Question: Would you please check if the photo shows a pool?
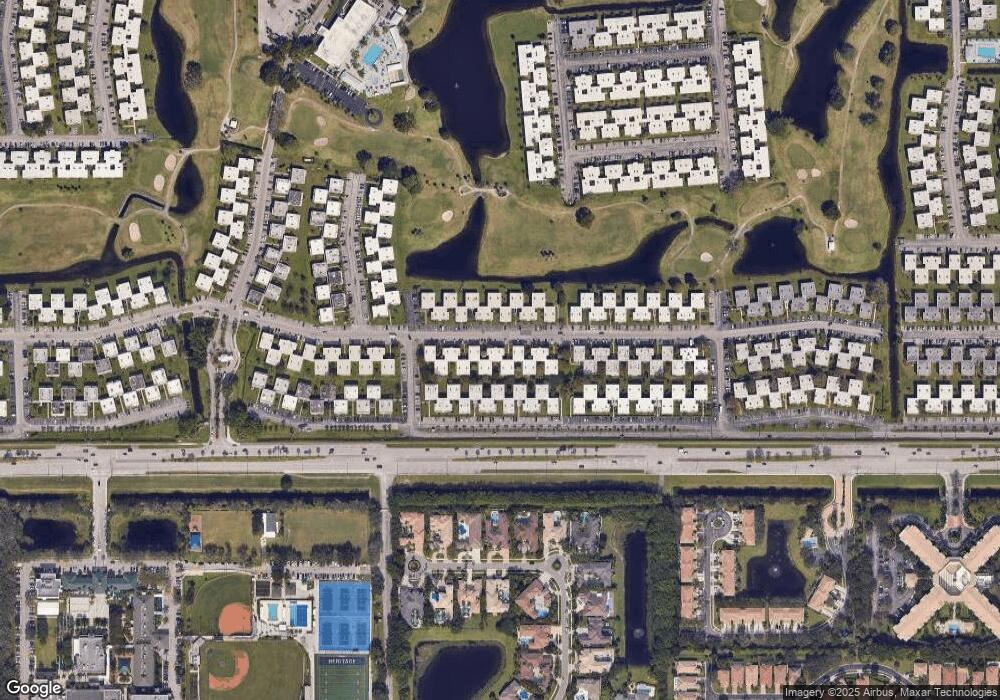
Yes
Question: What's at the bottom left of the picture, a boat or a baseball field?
baseball field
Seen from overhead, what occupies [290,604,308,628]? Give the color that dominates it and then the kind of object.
blue swimming pool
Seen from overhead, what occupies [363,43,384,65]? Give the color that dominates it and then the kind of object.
blue swimming pool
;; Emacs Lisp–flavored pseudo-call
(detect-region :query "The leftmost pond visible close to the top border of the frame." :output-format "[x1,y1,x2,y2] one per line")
[152,0,197,148]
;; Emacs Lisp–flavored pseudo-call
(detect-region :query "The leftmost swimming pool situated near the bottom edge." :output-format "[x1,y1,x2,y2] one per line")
[115,655,132,683]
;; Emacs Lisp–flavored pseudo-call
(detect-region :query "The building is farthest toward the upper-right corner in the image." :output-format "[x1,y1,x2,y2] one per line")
[968,0,998,30]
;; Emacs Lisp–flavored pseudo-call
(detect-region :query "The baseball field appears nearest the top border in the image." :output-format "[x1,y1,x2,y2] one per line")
[184,573,253,637]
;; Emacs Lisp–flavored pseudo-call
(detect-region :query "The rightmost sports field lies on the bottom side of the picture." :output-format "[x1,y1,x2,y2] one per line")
[315,654,369,700]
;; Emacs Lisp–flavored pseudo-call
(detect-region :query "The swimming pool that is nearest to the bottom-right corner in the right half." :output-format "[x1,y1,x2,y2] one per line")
[937,620,975,636]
